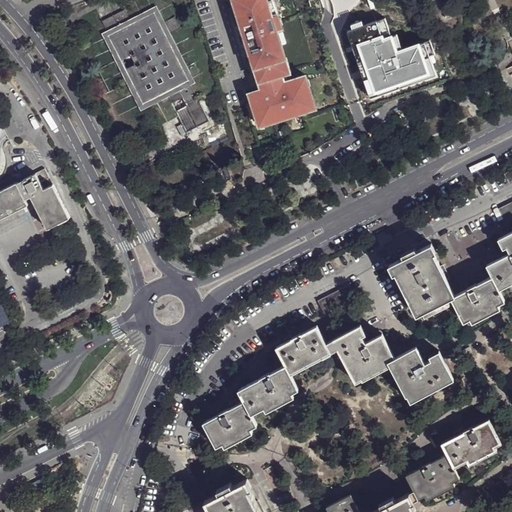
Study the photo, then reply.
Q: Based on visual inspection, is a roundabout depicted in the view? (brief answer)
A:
Yes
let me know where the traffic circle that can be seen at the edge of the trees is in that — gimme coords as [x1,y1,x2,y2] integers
[134,274,204,346]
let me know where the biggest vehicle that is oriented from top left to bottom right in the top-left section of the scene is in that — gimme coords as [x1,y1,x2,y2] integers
[43,110,60,132]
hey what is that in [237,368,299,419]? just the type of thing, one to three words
building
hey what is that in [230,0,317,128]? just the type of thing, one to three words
house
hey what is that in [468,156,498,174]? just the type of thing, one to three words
vehicle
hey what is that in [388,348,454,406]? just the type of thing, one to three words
building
